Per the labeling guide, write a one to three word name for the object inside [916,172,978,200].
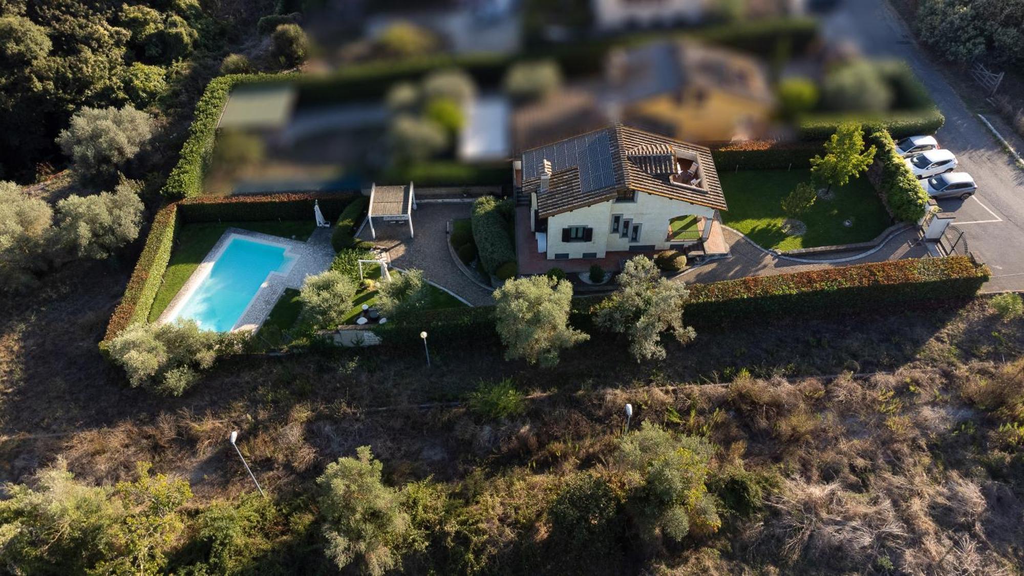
car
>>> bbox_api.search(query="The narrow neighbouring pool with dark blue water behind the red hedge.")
[222,173,373,196]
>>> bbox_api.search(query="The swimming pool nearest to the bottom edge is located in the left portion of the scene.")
[161,233,304,335]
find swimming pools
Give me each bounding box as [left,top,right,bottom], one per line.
[222,173,373,196]
[161,233,304,335]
